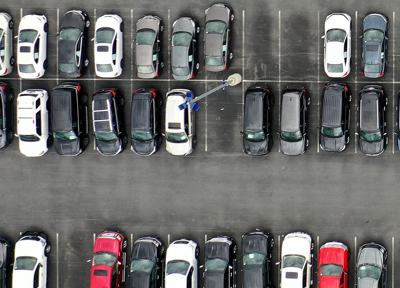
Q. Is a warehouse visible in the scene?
No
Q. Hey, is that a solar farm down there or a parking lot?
parking lot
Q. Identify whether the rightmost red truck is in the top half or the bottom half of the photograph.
bottom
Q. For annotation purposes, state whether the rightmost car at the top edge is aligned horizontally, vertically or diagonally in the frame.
vertically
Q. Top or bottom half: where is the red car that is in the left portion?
bottom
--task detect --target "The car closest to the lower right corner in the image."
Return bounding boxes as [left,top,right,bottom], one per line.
[353,243,387,288]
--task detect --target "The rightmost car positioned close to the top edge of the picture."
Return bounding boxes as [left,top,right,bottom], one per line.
[359,13,391,78]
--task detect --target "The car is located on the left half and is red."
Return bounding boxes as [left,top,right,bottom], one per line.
[84,231,125,288]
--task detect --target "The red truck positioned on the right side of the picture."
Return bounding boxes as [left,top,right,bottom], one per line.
[315,241,350,288]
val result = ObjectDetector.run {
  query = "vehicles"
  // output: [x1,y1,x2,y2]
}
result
[89,87,126,156]
[91,14,125,78]
[168,16,201,80]
[8,231,50,288]
[132,15,166,79]
[359,13,391,78]
[198,236,235,288]
[160,239,200,288]
[123,236,163,288]
[277,231,313,288]
[13,89,50,157]
[0,236,14,288]
[239,85,276,156]
[0,13,16,76]
[84,231,125,288]
[201,3,235,72]
[354,85,389,157]
[322,13,353,78]
[353,243,387,288]
[0,82,15,148]
[315,241,350,288]
[275,85,311,156]
[316,82,353,153]
[47,82,89,156]
[56,9,91,78]
[161,89,199,155]
[126,87,165,156]
[235,230,274,288]
[15,14,50,79]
